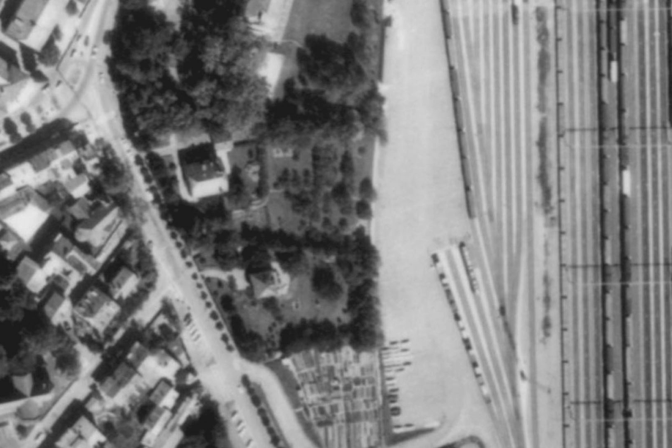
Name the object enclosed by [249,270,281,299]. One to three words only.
house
